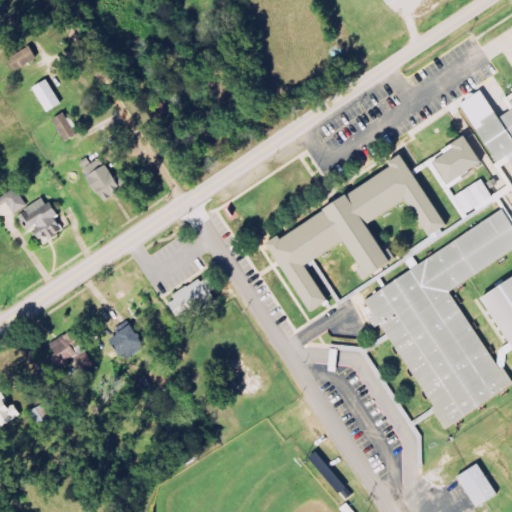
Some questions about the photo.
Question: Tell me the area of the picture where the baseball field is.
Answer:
bottom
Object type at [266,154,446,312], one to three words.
building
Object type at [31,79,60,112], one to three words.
barn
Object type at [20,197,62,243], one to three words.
house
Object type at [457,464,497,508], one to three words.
shed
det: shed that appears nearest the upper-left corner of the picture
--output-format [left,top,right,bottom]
[8,46,34,69]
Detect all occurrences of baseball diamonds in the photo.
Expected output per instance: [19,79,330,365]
[154,418,341,512]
